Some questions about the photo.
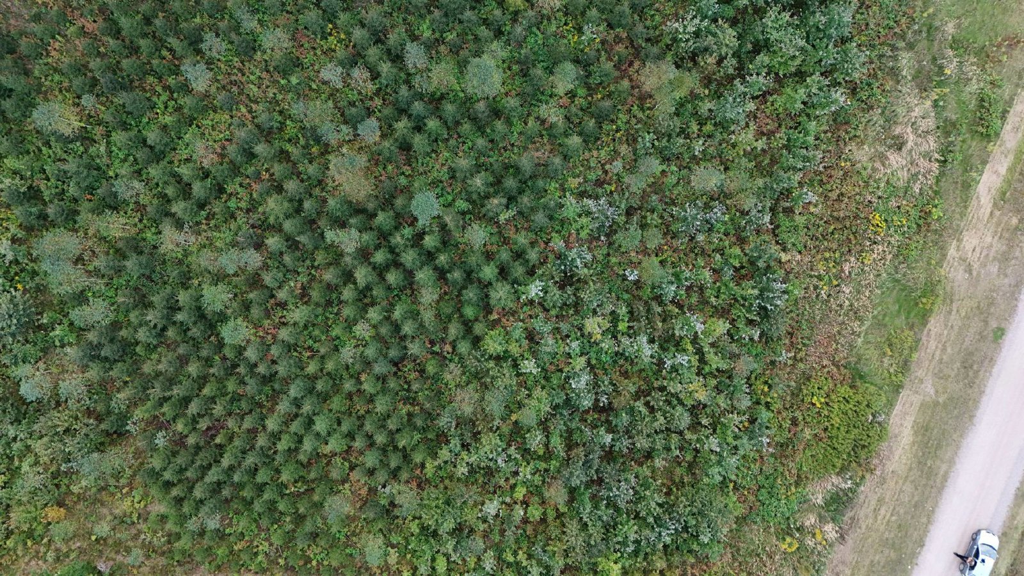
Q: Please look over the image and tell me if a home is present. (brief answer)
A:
No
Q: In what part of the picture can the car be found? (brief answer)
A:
bottom right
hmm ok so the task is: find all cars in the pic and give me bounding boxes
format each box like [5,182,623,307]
[960,528,1002,576]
